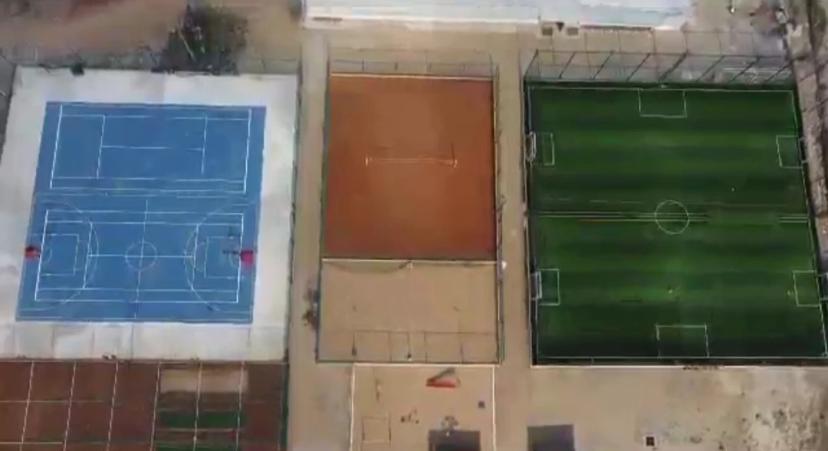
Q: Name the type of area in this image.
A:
sports ground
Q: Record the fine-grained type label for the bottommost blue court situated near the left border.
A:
basketball court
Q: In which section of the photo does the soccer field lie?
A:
right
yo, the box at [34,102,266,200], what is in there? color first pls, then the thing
blue tennis court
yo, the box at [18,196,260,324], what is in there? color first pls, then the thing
blue basketball court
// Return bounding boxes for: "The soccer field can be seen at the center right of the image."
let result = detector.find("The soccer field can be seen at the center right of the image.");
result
[522,78,828,369]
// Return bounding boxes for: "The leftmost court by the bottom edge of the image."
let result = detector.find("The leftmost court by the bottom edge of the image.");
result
[0,359,286,451]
